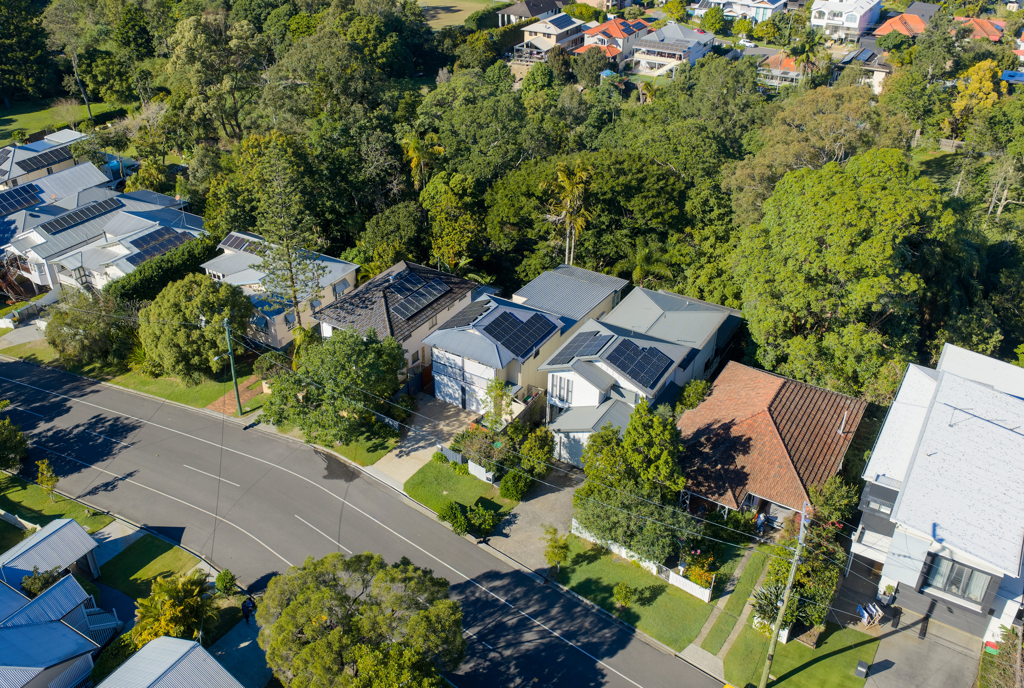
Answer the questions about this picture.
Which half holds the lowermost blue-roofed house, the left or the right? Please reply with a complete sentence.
The lowermost blue-roofed house sits on the left side.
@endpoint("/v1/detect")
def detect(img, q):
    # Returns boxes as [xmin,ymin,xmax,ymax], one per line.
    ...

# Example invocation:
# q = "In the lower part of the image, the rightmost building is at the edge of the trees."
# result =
[841,343,1024,644]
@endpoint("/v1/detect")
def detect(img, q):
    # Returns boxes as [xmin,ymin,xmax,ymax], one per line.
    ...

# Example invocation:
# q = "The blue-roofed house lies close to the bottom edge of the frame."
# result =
[0,573,125,688]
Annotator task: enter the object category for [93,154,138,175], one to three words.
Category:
swimming pool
